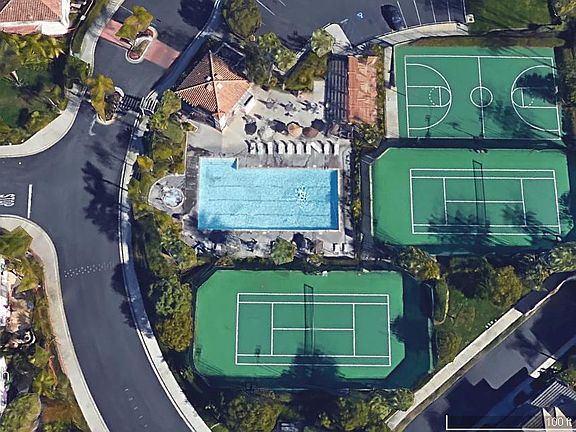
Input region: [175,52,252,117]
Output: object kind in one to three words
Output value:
building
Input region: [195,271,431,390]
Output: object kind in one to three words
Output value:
tennis court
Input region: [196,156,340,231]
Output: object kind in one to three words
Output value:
swimming pool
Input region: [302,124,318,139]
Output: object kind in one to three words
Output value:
umbrella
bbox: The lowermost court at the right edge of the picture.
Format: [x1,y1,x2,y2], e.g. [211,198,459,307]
[372,149,576,256]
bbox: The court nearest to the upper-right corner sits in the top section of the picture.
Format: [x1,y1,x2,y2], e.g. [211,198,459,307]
[396,48,566,142]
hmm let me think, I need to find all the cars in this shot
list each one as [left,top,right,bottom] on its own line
[382,3,402,28]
